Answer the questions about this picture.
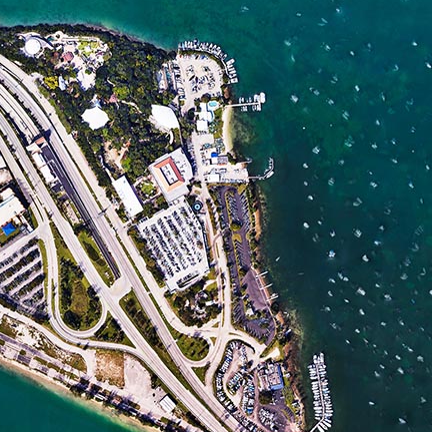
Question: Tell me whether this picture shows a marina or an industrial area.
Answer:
marina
